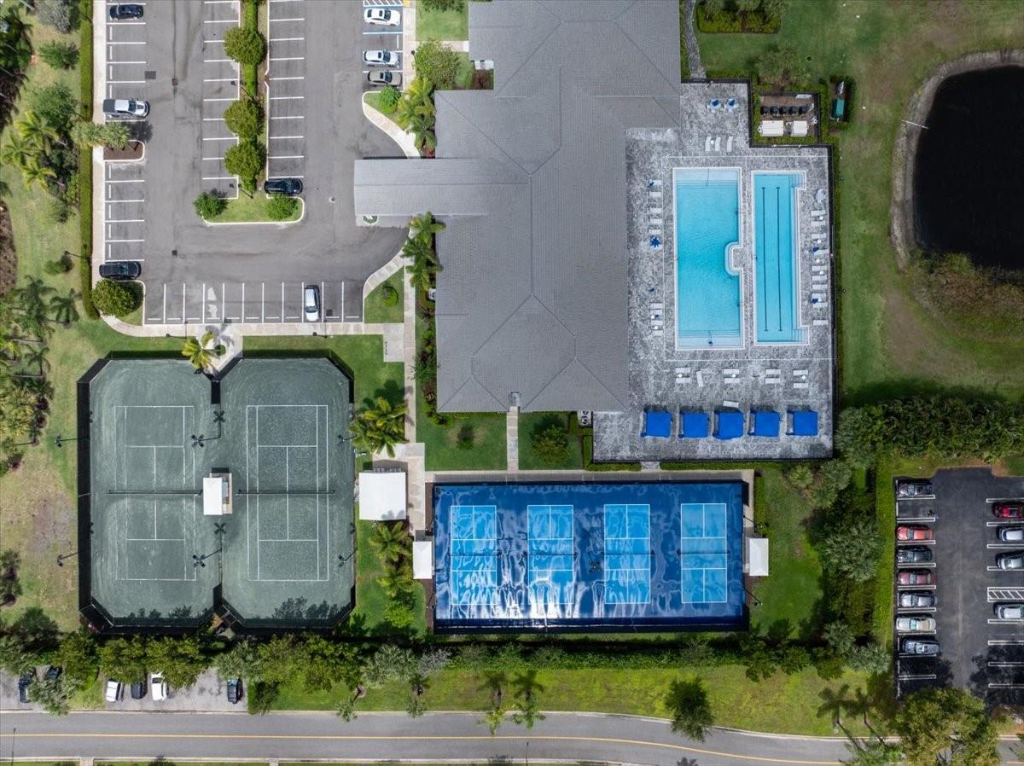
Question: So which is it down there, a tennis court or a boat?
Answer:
tennis court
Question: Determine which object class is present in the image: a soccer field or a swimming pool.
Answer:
swimming pool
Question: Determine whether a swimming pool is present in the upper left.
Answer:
No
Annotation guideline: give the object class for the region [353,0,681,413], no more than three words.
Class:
building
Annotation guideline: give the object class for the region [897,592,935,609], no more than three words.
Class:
car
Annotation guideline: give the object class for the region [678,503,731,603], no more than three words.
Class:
sports court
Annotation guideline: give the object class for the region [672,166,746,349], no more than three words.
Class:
swimming pool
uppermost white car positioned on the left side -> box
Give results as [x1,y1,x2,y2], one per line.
[365,7,401,27]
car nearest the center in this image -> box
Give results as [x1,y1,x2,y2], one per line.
[303,285,321,322]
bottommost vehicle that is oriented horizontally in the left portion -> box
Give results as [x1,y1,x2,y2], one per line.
[99,261,143,279]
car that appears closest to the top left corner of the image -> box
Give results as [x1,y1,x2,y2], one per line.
[109,2,146,21]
